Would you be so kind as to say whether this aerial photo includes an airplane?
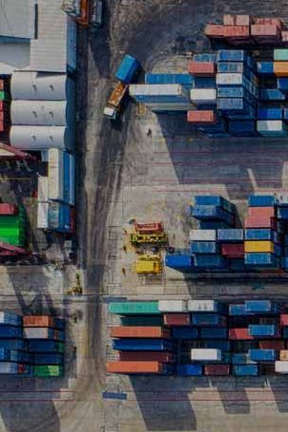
No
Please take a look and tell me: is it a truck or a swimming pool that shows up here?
truck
